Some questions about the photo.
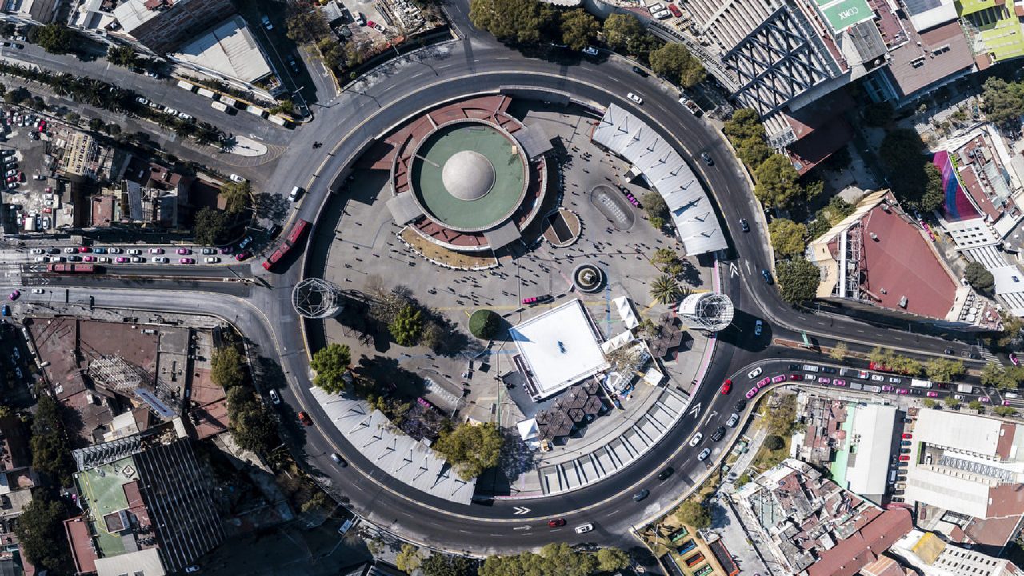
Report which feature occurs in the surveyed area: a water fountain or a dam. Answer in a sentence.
The image shows a water fountain.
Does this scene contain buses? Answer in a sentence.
Yes, there is a bus in the image.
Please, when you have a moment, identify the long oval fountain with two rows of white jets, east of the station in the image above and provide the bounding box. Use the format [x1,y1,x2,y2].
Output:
[592,185,634,230]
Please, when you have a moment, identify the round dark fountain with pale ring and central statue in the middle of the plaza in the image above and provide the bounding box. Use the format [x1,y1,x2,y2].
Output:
[569,259,601,292]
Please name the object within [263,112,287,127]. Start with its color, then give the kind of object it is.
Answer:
white vehicle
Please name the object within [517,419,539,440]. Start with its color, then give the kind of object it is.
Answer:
white tent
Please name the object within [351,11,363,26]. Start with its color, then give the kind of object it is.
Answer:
white vehicle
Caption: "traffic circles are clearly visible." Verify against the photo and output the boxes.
[242,34,778,560]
